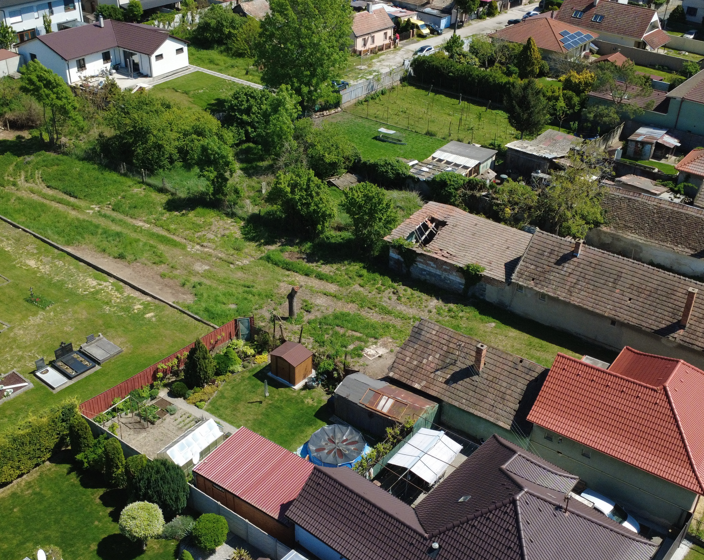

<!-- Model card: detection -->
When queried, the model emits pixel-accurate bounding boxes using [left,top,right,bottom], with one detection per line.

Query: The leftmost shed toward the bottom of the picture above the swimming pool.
[266,342,321,395]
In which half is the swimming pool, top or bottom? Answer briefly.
bottom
